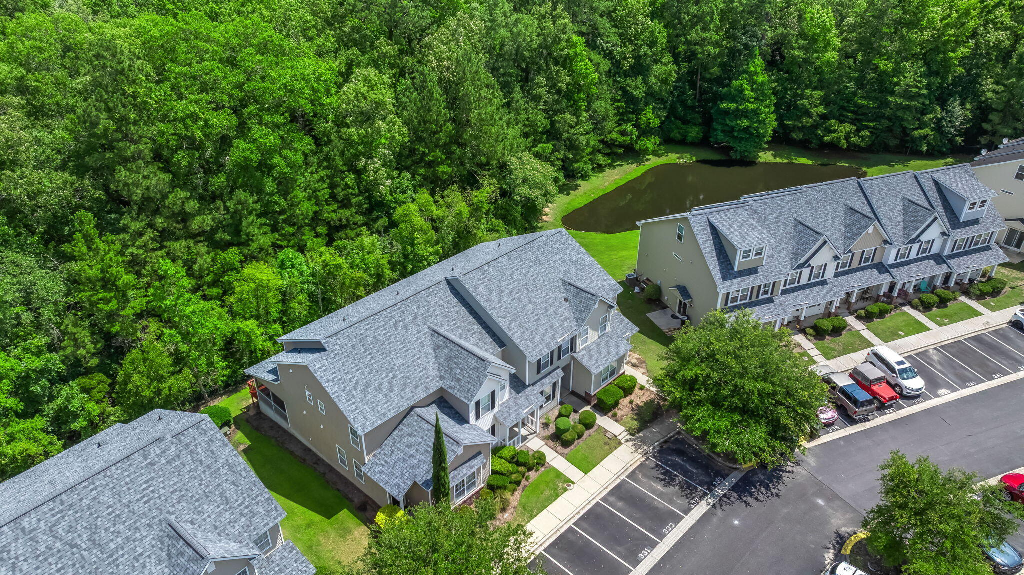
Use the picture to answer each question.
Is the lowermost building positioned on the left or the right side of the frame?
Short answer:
left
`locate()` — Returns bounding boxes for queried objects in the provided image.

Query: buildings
[0,408,318,575]
[635,163,1013,338]
[245,226,640,524]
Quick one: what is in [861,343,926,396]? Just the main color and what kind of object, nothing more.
white car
